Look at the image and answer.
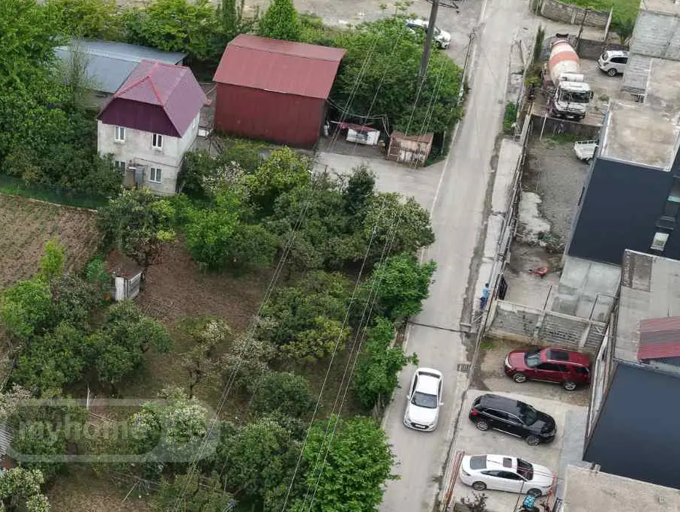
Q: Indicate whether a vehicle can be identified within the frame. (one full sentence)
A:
Yes, there's a vehicle down there.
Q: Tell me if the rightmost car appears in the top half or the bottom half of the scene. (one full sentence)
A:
The rightmost car sits in the top half of the picture.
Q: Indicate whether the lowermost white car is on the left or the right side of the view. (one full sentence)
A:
The lowermost white car appears in the right half of the scene.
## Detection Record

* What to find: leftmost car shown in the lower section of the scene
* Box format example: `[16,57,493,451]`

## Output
[405,366,447,429]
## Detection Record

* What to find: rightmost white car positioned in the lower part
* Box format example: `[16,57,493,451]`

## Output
[459,452,555,497]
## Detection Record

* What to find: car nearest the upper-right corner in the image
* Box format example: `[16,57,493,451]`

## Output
[599,47,631,75]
